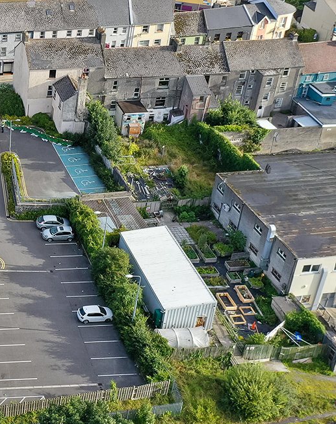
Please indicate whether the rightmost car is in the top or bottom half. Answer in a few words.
bottom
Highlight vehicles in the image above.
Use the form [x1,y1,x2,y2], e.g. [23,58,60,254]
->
[74,304,116,326]
[32,214,73,231]
[39,225,76,243]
